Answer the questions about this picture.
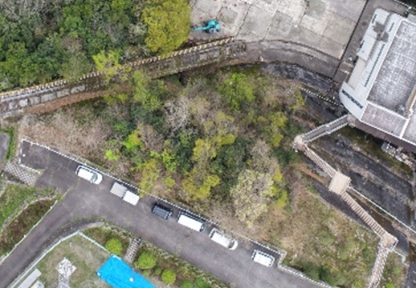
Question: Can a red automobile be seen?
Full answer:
No, the photo shows no red automobile.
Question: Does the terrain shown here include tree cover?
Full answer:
Yes, tree cover can be seen from above here.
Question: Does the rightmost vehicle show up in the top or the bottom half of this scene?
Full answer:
The bottom half of the photo is where the rightmost vehicle is.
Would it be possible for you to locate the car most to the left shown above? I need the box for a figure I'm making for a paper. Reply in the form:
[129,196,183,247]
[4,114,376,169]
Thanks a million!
[74,165,104,187]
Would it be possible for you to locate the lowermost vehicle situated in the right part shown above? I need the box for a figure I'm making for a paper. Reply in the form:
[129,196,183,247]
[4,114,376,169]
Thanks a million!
[252,250,278,270]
